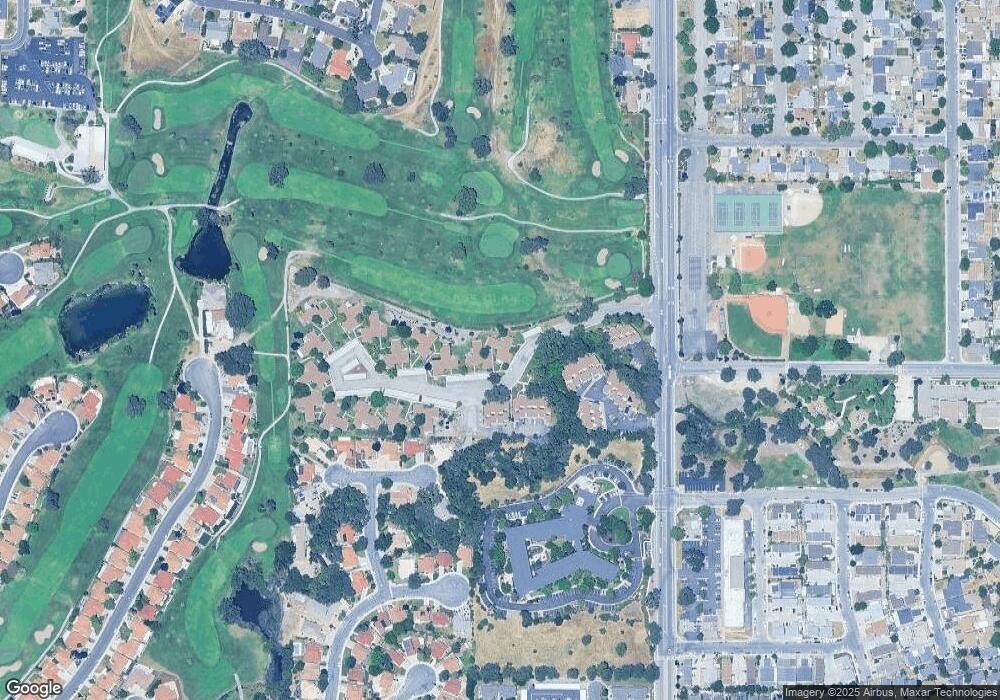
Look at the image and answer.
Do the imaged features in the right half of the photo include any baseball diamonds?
Yes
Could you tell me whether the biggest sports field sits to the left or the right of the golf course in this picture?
to its right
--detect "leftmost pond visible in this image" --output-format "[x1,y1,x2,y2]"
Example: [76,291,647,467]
[60,284,152,358]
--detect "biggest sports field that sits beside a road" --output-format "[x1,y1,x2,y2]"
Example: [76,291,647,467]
[784,188,944,361]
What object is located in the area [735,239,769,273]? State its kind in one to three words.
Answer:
baseball field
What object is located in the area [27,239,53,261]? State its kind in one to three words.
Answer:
house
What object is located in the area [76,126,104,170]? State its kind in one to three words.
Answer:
barn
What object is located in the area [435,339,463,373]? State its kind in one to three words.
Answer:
building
